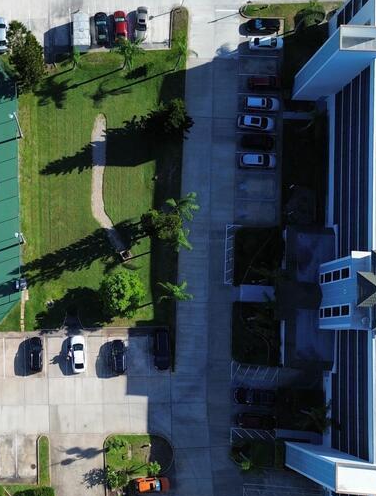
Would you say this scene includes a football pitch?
No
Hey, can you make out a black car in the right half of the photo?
Yes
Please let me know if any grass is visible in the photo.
Yes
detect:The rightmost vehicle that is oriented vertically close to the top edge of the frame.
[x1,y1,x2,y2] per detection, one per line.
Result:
[133,5,150,44]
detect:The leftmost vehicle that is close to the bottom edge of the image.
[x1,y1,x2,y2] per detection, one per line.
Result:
[135,476,171,495]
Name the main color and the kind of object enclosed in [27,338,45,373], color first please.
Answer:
black car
